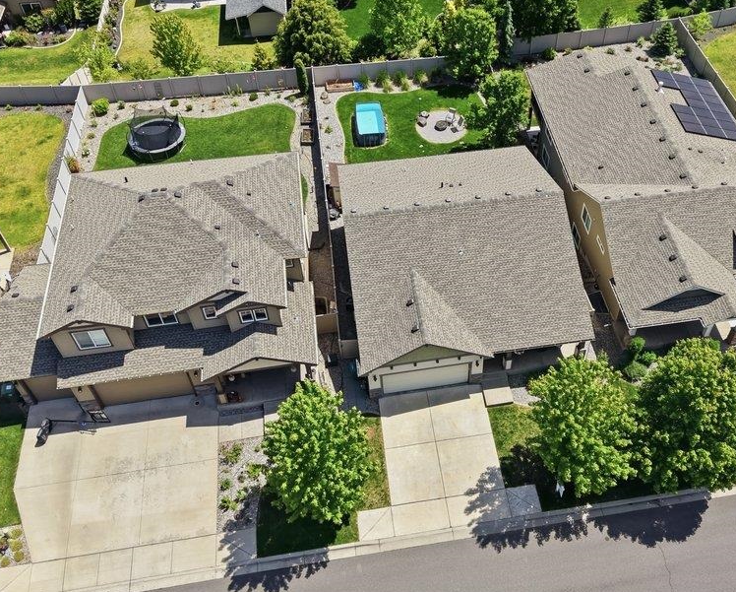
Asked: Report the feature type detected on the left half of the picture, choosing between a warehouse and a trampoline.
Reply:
trampoline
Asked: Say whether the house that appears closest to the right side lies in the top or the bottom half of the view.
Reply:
top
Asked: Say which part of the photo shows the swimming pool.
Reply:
top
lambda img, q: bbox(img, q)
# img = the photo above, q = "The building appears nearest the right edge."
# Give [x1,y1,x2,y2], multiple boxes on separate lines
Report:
[525,50,736,358]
